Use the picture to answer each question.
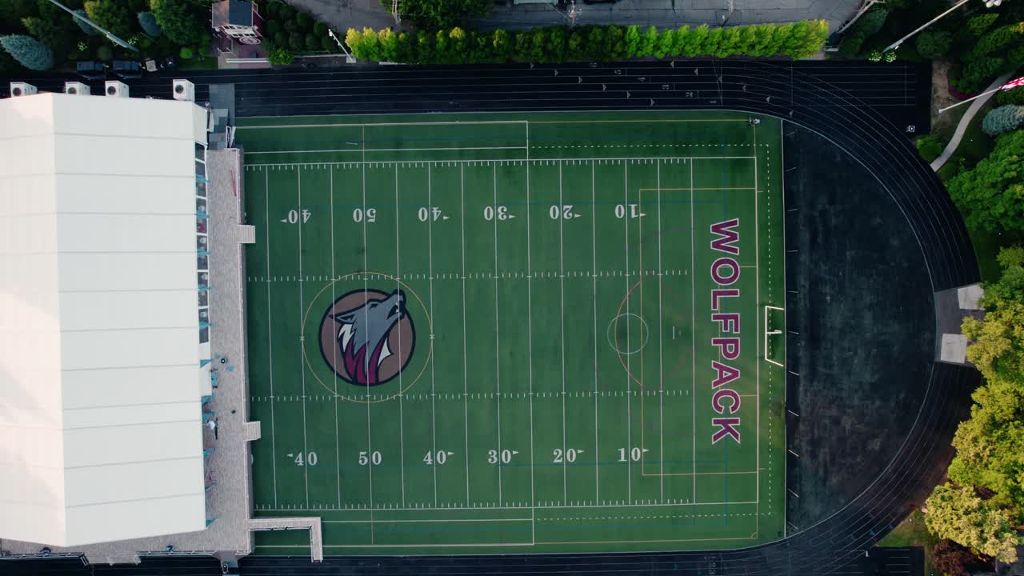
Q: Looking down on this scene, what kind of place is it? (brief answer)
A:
sports ground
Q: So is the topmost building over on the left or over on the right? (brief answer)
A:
left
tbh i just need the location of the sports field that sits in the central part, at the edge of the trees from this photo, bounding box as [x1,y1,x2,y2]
[237,109,785,557]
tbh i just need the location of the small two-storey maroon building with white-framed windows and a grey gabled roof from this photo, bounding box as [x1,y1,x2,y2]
[211,0,266,42]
